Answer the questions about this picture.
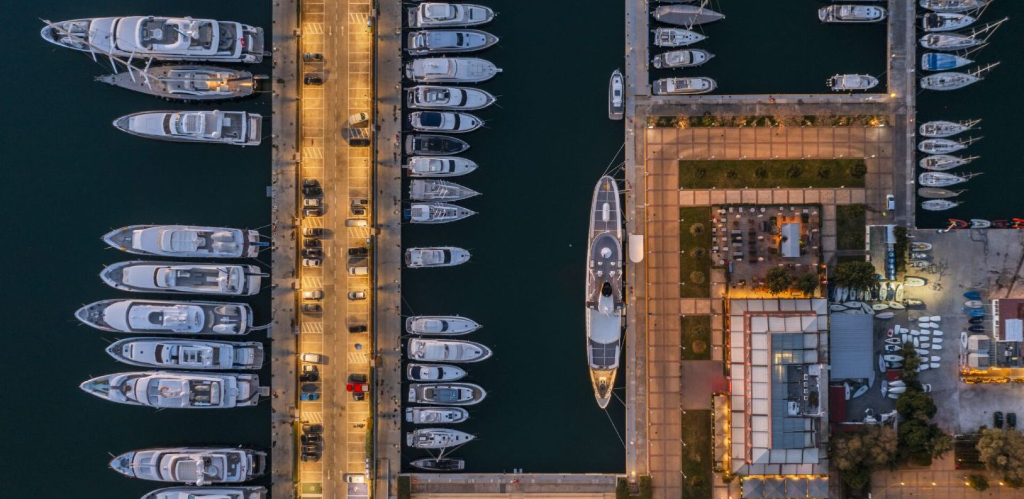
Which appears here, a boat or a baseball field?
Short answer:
boat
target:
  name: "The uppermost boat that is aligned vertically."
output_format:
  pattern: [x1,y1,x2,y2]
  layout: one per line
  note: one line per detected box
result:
[607,70,625,120]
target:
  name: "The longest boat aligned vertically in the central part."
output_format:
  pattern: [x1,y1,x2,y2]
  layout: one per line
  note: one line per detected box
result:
[586,144,632,450]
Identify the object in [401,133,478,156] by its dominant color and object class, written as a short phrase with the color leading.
black boat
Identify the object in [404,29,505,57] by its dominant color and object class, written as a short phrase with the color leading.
blue boat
